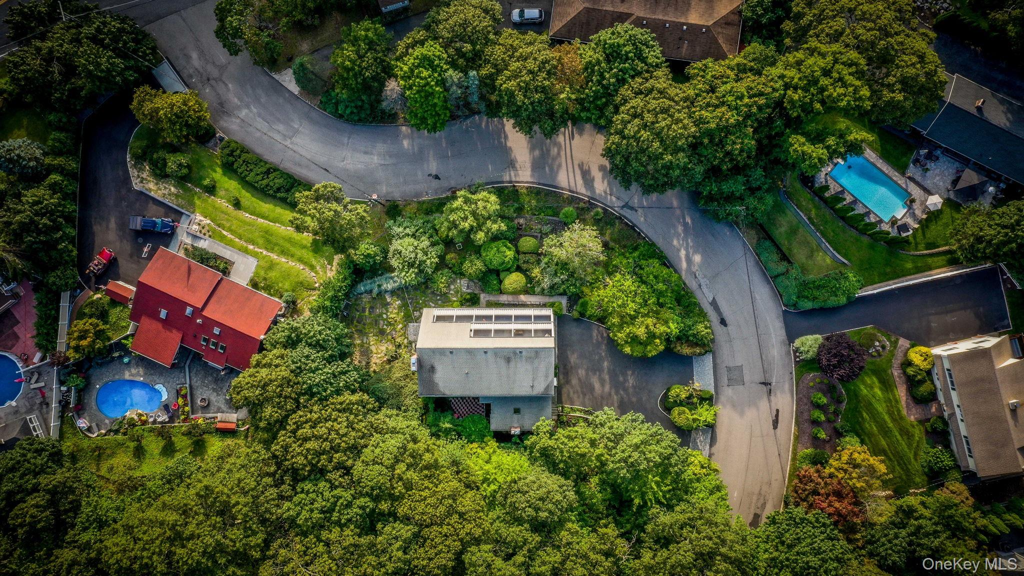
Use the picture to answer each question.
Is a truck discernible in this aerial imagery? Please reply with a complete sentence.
Yes, the picture does show a truck.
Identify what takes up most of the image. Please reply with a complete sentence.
What you mostly see from above here is trees.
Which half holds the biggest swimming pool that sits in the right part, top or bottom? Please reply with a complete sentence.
It is in the top half that the biggest swimming pool that sits in the right part appears.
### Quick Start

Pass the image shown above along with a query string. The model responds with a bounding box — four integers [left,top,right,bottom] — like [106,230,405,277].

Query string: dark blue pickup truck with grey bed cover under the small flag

[124,214,176,235]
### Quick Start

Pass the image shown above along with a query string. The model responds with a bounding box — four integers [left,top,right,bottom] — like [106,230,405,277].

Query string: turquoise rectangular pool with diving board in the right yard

[826,146,916,227]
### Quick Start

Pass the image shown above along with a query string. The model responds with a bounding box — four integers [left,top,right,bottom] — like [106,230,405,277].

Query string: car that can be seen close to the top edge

[511,5,546,23]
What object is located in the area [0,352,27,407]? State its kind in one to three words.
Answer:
swimming pool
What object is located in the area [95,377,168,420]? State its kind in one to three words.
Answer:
swimming pool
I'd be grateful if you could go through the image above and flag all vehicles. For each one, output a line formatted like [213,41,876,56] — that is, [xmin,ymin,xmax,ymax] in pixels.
[80,243,117,282]
[511,5,546,23]
[124,214,176,235]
